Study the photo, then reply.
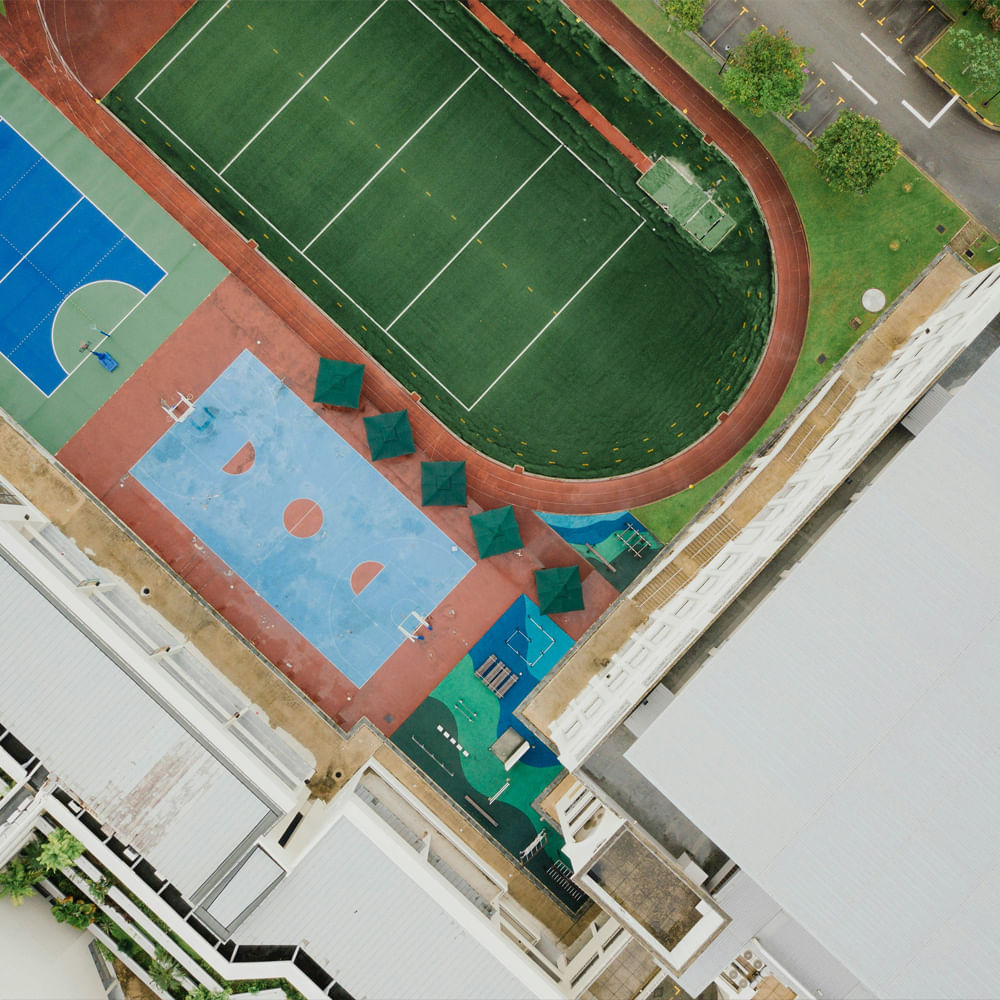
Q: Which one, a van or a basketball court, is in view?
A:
basketball court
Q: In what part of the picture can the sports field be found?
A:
top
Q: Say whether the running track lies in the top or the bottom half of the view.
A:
top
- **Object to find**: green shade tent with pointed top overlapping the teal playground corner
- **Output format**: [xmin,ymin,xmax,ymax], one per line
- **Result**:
[534,565,584,615]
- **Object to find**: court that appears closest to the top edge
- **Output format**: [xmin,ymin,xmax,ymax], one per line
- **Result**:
[0,57,229,456]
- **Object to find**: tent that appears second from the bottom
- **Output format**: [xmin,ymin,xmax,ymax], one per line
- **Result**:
[470,505,523,559]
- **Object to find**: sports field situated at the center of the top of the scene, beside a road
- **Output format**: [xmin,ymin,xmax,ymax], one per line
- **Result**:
[104,0,775,479]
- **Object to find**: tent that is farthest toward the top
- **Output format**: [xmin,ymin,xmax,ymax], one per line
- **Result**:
[313,357,367,409]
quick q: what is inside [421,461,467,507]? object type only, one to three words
tent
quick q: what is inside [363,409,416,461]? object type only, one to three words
tent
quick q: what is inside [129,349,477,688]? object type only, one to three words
basketball court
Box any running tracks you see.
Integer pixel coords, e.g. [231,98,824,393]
[0,0,811,516]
